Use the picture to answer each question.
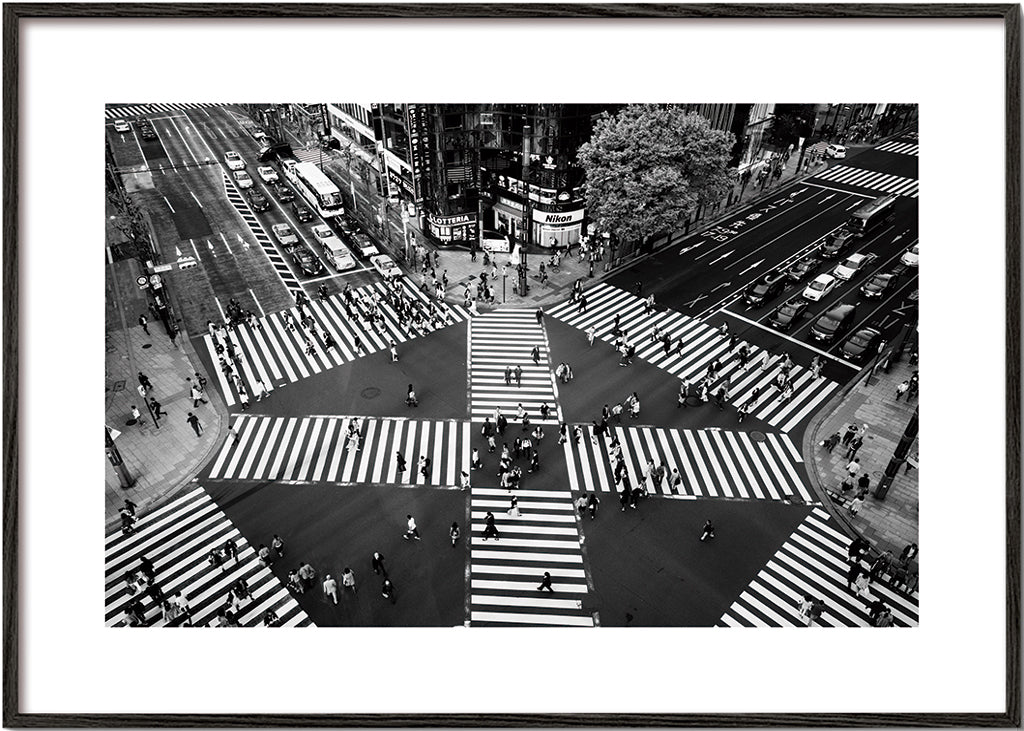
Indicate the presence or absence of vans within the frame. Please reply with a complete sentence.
Yes, there's a van here.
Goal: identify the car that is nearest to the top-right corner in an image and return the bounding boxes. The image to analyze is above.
[898,127,919,141]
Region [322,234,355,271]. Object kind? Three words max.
van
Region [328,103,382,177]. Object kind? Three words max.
building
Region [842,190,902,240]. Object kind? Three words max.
bus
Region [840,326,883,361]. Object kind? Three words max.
car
